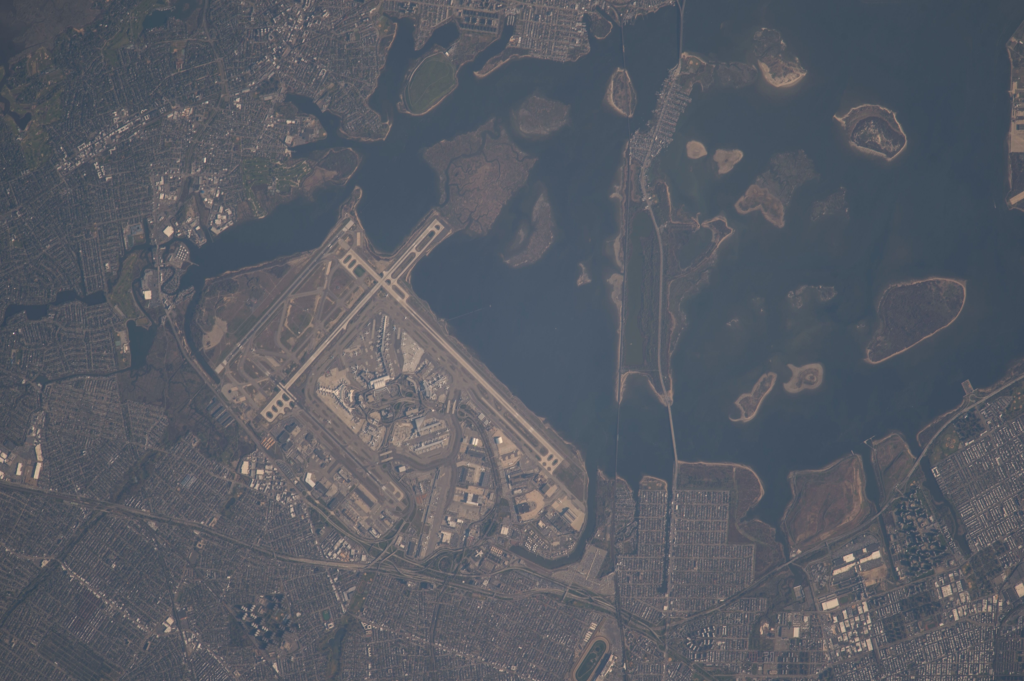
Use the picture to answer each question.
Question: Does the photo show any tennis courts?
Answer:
No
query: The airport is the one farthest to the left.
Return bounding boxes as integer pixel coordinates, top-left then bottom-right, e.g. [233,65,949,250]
[215,214,585,559]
